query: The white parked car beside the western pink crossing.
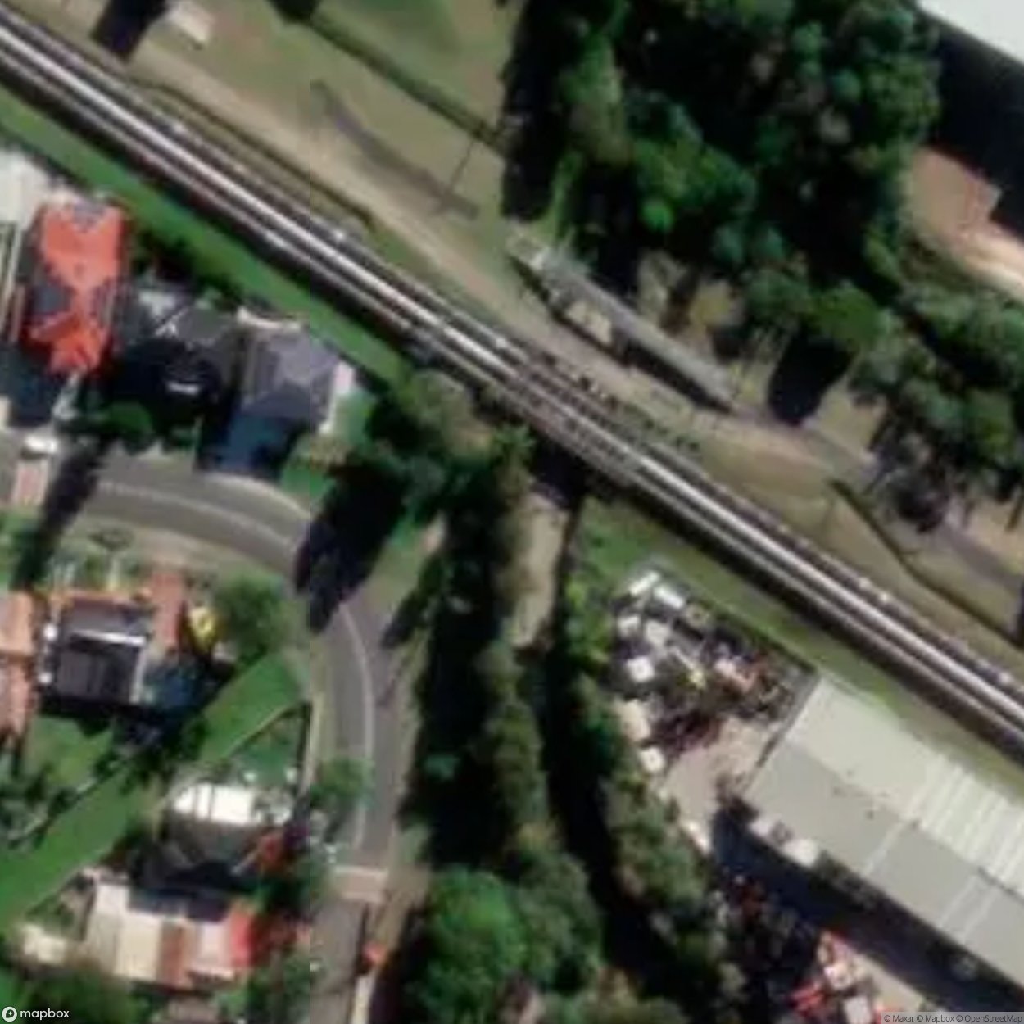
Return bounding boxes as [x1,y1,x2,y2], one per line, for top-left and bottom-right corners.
[25,437,57,453]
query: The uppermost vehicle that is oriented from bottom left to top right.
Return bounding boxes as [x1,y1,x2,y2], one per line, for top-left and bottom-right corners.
[626,567,663,598]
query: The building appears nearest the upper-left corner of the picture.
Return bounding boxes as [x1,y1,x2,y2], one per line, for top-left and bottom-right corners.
[164,0,211,40]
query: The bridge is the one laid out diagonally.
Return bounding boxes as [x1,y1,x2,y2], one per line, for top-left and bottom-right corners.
[498,350,670,489]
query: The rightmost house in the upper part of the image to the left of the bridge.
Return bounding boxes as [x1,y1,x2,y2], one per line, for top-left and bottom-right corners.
[235,303,358,432]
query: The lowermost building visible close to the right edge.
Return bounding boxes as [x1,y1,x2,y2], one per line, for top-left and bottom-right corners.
[747,676,1024,983]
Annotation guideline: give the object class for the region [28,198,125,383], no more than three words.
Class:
house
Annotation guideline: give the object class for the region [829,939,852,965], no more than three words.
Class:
car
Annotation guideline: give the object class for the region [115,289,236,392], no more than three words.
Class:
house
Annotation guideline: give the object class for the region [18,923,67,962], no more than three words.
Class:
shed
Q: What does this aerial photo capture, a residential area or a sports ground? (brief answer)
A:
residential area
